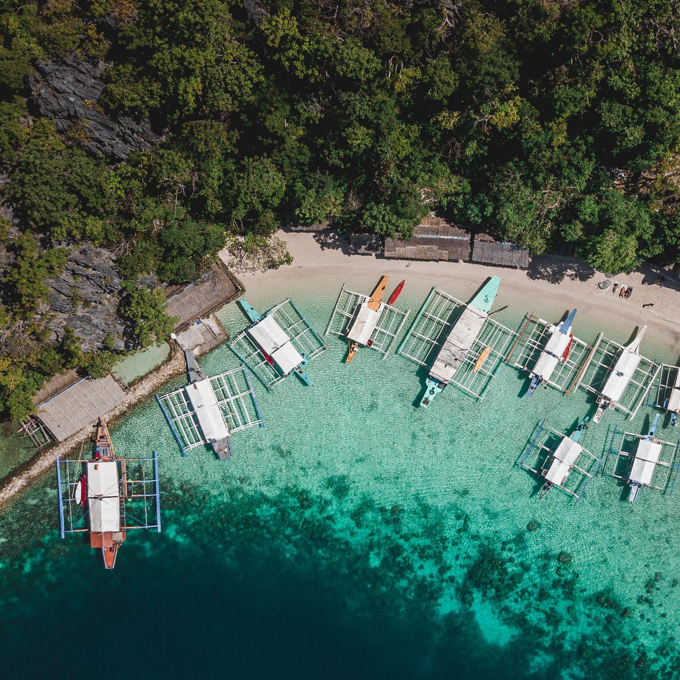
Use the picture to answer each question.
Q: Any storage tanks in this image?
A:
No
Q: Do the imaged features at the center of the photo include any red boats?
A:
Yes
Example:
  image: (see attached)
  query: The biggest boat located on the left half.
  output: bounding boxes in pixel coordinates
[55,416,161,605]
